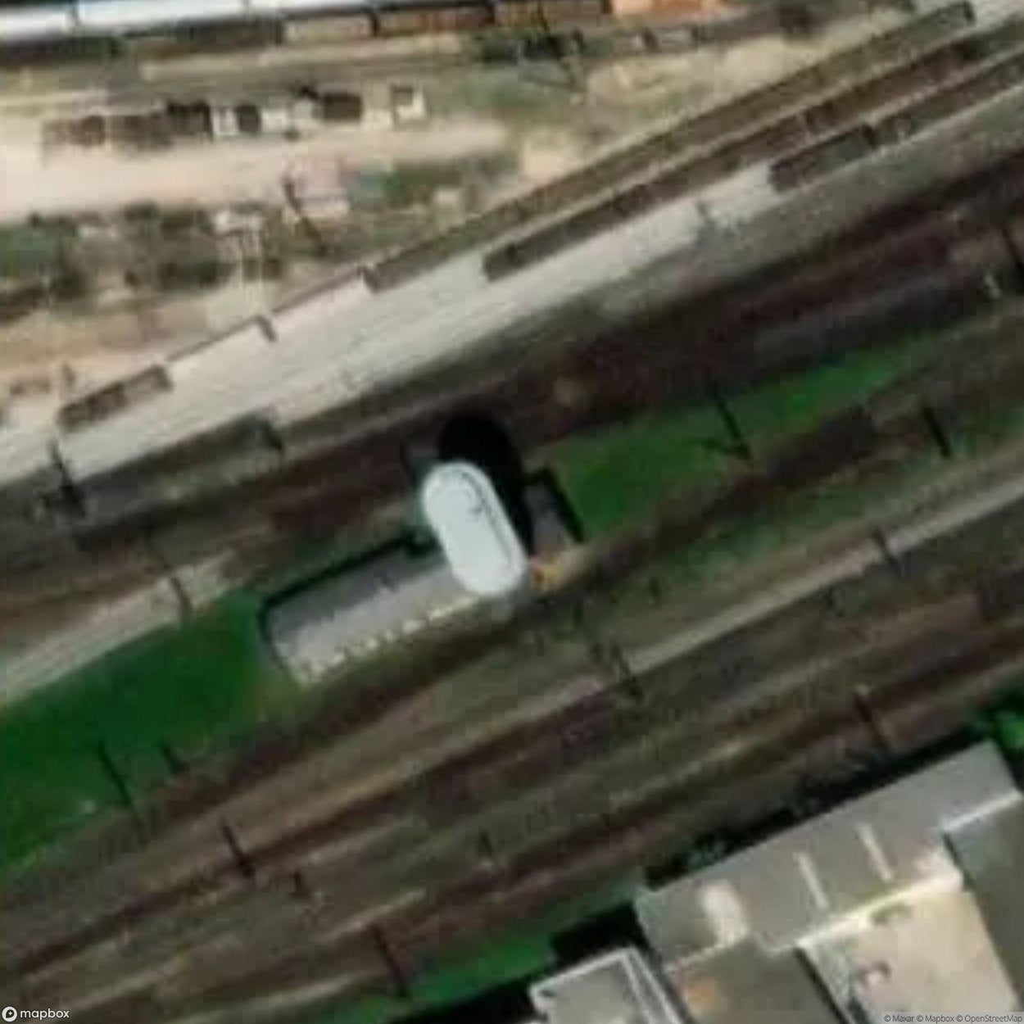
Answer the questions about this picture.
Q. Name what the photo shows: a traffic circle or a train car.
train car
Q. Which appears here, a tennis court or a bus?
bus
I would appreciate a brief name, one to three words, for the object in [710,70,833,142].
rail car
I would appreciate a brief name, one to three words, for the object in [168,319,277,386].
rail car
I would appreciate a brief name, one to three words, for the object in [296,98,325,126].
shed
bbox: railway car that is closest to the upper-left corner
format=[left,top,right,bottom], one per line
[0,37,81,68]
